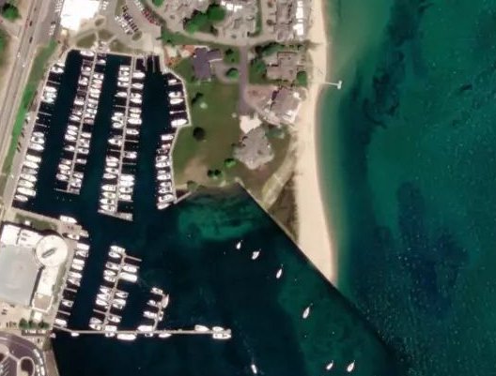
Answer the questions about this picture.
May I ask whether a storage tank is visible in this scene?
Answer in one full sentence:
No, the frame has no storage tank in it.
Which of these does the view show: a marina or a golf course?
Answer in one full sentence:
What you see here is a marina.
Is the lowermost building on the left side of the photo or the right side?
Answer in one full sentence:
The lowermost building sits on the left side.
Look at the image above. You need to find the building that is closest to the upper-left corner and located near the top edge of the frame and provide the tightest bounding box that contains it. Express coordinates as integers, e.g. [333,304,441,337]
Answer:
[60,0,99,31]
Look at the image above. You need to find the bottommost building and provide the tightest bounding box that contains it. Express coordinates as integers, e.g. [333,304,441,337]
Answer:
[0,223,67,310]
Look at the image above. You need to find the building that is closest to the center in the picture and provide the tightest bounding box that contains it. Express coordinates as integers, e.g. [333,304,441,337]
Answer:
[234,125,273,168]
